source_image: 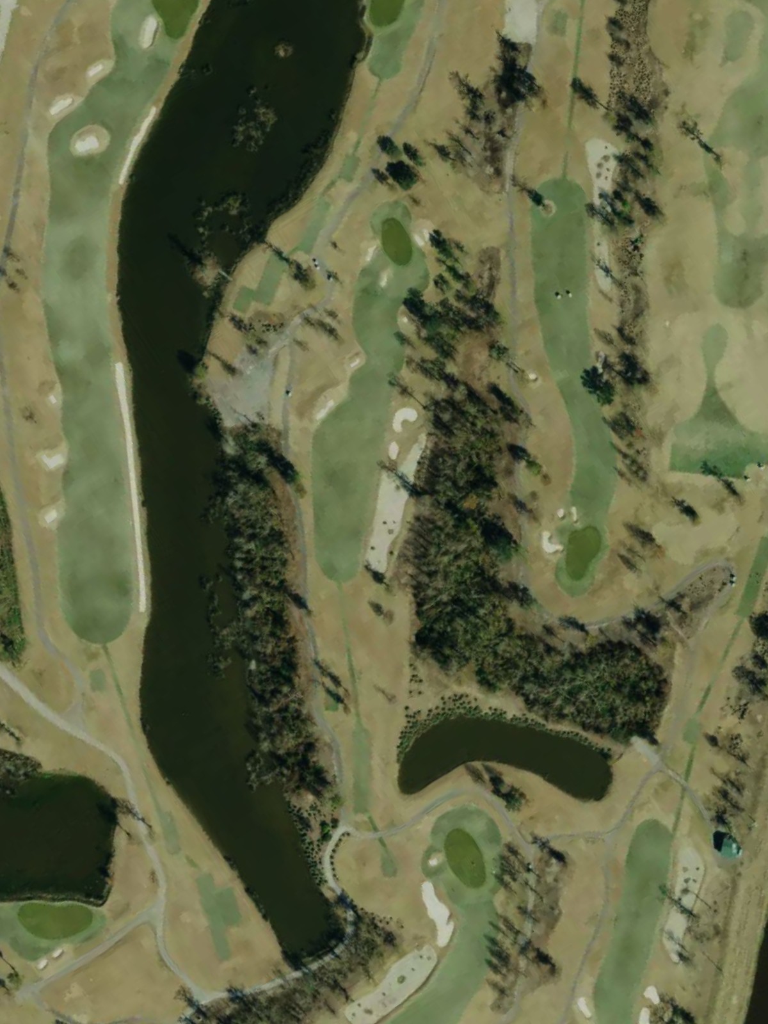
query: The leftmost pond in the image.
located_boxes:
[0,773,118,904]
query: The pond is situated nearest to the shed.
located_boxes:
[397,715,613,801]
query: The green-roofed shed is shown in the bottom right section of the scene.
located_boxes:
[718,839,740,860]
